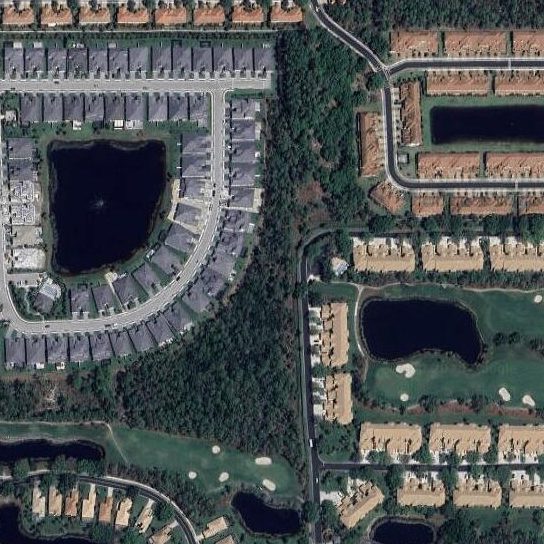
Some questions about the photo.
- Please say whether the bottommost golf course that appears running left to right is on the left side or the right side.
left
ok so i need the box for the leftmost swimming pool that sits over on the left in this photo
[41,280,62,300]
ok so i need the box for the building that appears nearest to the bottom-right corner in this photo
[509,482,544,510]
